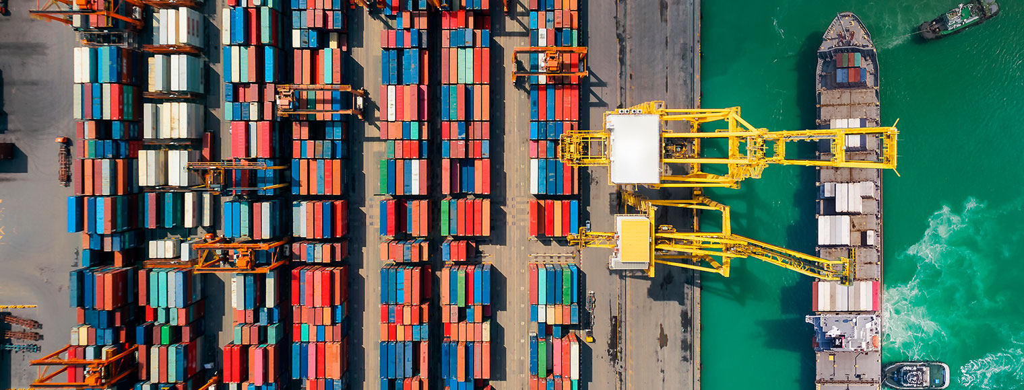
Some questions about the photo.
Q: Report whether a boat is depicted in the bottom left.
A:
No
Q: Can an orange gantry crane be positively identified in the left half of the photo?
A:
Yes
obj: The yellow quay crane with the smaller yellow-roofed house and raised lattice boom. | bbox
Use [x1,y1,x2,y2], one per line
[567,186,850,293]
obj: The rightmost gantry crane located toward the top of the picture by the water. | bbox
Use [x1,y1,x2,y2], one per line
[558,97,900,191]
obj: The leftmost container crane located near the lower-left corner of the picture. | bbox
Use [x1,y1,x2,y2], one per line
[28,341,115,390]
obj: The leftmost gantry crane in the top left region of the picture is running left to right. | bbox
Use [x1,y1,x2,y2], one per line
[28,0,140,27]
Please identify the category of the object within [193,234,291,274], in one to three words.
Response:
container crane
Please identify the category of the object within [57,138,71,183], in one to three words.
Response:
vehicle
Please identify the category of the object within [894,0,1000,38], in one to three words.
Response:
boat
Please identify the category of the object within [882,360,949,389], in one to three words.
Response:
boat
